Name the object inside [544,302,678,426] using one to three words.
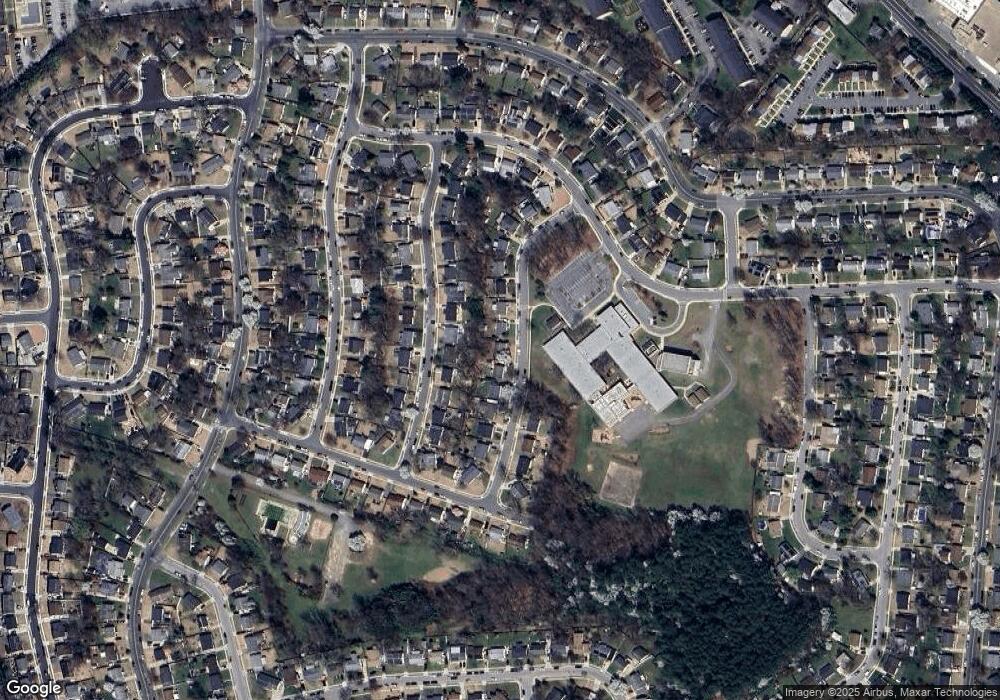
building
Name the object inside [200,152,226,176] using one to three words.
house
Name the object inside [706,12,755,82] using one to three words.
building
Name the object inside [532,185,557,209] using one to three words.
house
